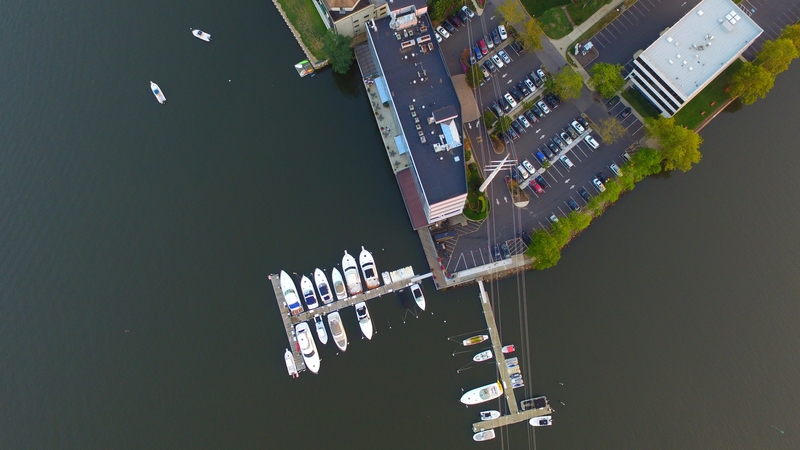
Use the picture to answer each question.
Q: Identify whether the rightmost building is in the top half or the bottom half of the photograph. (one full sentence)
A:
You can find the rightmost building in the top half.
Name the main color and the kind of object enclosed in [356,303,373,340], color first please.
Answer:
white boat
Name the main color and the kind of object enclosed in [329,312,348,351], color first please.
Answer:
white boat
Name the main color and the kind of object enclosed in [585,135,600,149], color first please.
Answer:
white car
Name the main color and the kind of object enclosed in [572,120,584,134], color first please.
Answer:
white vehicle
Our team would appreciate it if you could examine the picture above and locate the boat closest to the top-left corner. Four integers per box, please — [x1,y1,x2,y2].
[150,81,167,104]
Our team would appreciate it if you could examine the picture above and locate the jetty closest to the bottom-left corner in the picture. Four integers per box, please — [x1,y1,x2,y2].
[269,274,425,371]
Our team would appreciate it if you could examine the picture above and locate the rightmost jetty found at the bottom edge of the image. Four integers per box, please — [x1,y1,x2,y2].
[473,291,553,433]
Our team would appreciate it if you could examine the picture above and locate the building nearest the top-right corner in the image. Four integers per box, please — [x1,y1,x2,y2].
[620,0,763,116]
